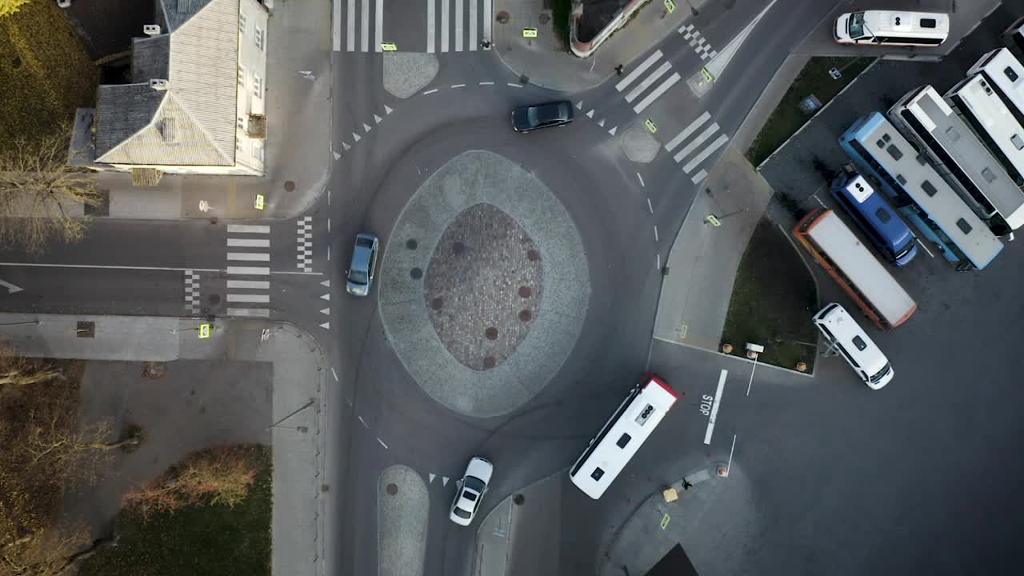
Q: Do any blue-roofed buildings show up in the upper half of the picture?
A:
No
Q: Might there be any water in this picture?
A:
No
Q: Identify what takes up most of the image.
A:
paved ground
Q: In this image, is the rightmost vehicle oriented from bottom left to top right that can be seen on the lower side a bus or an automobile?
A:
bus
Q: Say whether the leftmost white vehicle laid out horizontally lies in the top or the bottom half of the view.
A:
top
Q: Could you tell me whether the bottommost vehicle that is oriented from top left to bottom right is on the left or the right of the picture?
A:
right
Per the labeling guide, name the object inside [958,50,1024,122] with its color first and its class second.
white bus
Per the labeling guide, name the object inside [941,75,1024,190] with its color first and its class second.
white bus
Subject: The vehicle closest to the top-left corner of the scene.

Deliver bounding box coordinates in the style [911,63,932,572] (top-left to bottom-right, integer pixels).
[345,234,380,296]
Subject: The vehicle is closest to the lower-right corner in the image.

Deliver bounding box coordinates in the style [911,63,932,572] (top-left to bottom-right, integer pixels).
[808,301,887,390]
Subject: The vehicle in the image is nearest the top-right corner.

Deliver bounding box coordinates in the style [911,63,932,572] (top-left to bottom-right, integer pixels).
[985,17,1024,65]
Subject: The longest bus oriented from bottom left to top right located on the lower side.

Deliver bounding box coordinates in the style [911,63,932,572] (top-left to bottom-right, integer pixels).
[569,367,683,497]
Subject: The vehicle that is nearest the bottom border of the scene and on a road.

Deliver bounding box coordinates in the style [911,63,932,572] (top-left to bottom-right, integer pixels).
[449,455,492,525]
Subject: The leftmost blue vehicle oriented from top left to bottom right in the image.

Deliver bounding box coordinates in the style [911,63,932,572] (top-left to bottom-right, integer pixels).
[827,170,913,263]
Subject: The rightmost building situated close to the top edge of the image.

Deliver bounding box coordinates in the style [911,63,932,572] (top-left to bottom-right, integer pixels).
[568,0,663,59]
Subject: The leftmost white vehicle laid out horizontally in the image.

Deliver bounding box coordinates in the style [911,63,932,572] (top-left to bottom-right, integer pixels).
[831,7,953,50]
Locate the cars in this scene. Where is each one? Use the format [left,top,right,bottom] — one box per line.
[510,100,575,133]
[345,234,380,296]
[449,455,492,525]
